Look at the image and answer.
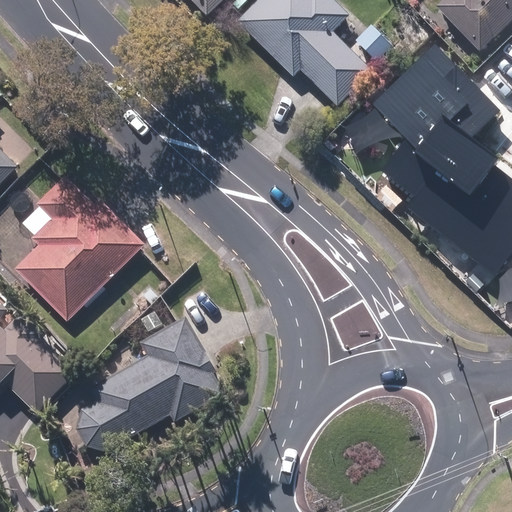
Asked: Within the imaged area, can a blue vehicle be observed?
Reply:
Yes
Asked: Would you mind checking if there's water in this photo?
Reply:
No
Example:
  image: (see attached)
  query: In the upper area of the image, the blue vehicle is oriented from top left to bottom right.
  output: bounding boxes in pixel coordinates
[269,185,294,211]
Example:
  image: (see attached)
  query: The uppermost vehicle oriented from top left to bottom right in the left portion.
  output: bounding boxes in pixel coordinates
[122,108,150,137]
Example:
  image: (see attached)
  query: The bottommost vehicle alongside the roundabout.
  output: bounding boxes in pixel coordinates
[279,448,298,486]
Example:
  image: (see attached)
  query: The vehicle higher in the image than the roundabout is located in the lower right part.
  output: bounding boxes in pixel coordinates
[380,369,407,384]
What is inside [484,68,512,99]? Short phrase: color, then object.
white car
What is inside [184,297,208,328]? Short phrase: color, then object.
white car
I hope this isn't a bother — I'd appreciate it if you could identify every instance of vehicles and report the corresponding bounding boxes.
[380,369,407,384]
[502,42,512,62]
[196,290,221,320]
[184,297,208,328]
[484,68,512,99]
[142,224,162,254]
[272,96,292,126]
[279,448,298,486]
[269,185,294,211]
[122,108,150,137]
[498,58,512,84]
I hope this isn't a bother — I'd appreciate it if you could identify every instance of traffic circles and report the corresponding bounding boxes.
[293,384,438,512]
